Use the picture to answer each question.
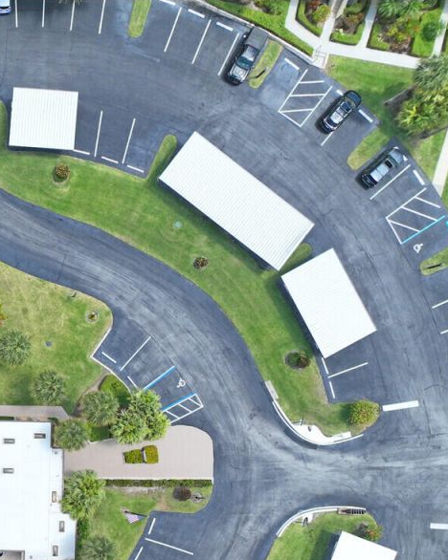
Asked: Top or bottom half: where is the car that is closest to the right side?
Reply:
top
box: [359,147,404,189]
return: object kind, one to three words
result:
car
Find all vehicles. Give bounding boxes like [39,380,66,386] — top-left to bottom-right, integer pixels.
[359,147,404,189]
[320,90,361,136]
[0,0,12,13]
[223,25,266,85]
